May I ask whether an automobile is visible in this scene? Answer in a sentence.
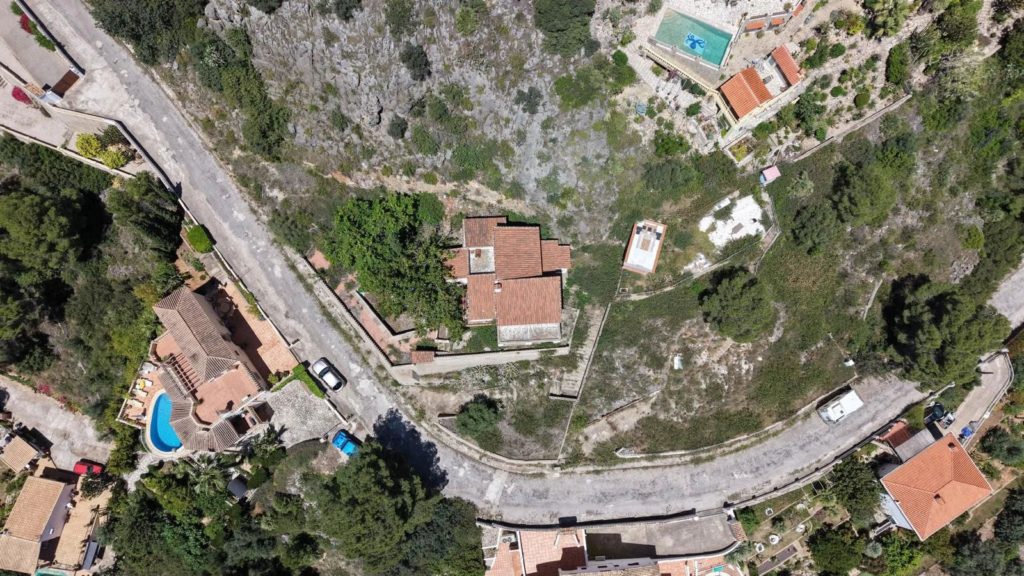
Yes, looking at the shot, I can spot an automobile.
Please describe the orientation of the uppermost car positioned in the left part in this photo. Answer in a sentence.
The uppermost car positioned in the left part is laid out at an angle.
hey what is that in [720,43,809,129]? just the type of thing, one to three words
house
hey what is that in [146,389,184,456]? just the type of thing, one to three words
swimming pool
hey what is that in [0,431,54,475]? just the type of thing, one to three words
house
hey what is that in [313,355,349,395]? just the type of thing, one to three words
car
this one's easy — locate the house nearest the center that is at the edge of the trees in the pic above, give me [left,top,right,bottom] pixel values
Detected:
[447,215,573,345]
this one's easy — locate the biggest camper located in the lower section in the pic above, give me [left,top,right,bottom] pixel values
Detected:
[807,384,867,424]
